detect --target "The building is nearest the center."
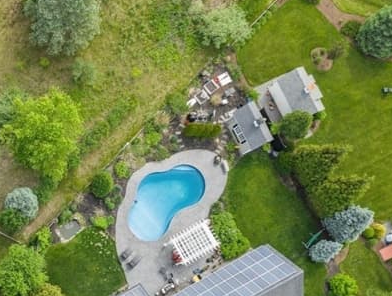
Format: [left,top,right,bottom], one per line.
[224,102,274,155]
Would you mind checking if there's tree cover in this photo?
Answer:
Yes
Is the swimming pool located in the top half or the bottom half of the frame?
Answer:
bottom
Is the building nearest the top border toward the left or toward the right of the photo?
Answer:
right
